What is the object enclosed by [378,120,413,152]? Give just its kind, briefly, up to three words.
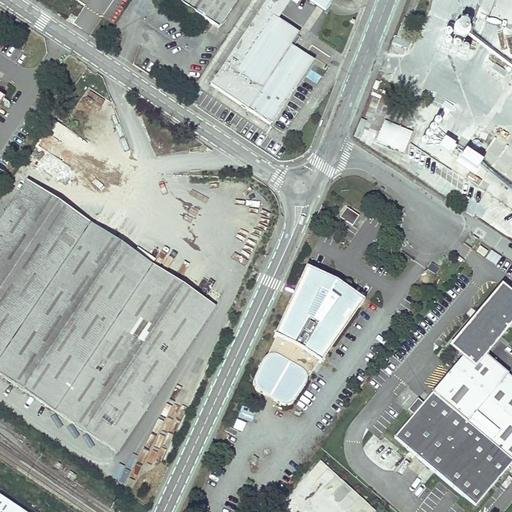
building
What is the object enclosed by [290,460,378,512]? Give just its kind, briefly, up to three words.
building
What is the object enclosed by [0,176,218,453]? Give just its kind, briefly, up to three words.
warehouse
